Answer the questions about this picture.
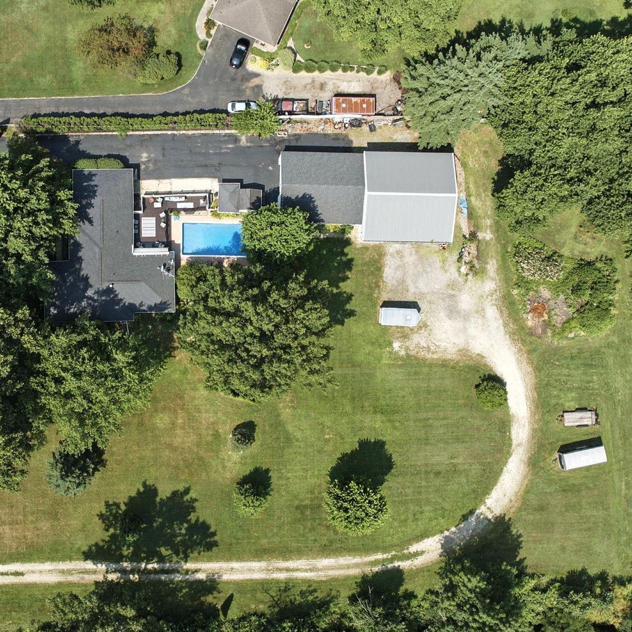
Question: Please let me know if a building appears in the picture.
Yes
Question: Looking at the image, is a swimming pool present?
Yes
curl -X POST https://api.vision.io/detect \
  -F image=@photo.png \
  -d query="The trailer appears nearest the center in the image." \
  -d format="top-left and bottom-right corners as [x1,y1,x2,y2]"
[376,306,422,328]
